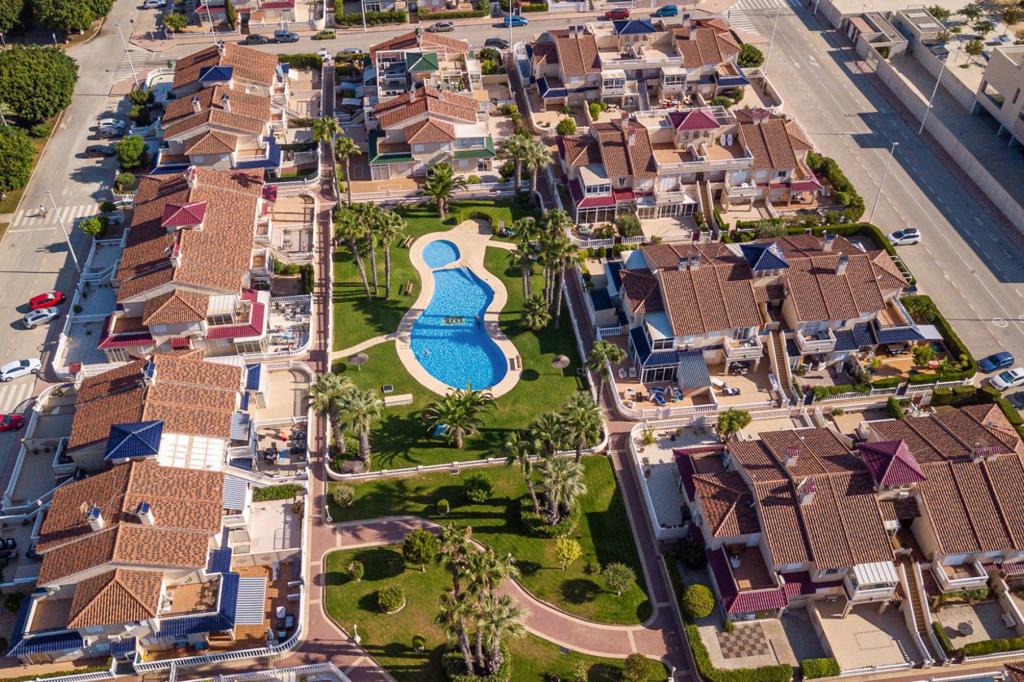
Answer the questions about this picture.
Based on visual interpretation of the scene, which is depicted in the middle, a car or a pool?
pool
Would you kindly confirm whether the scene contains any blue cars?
Yes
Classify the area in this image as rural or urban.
urban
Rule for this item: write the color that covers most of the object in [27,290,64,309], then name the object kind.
red car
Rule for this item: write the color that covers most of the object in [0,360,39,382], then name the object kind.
white car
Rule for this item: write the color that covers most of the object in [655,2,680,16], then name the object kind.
blue car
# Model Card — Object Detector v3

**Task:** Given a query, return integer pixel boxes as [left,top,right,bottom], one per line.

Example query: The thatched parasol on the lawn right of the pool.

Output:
[550,353,575,375]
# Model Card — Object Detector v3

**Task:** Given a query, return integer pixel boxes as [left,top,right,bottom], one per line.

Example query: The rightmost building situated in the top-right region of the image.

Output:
[974,46,1024,155]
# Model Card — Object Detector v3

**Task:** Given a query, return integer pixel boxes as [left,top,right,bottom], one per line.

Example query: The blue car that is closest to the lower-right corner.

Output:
[980,352,1020,374]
